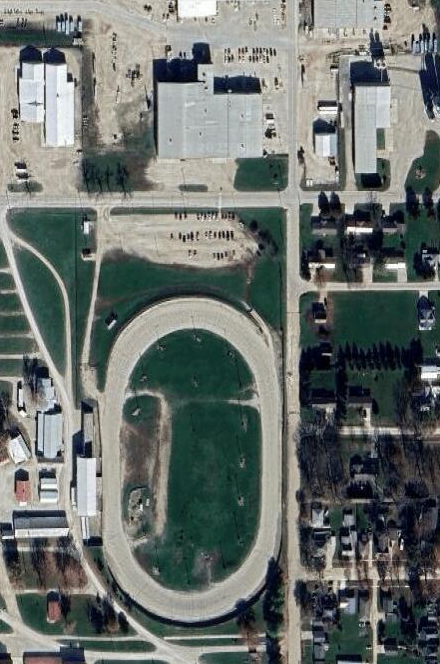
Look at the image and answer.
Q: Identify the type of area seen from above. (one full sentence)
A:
This looks like a sports ground.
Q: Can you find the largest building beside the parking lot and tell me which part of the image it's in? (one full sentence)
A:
Look in the top portion of the view to spot the largest building beside the parking lot.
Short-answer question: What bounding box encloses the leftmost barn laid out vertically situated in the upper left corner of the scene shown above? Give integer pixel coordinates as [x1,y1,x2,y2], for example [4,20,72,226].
[19,62,43,122]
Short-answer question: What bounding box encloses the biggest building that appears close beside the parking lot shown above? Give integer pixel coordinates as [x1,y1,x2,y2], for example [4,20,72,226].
[157,64,262,158]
